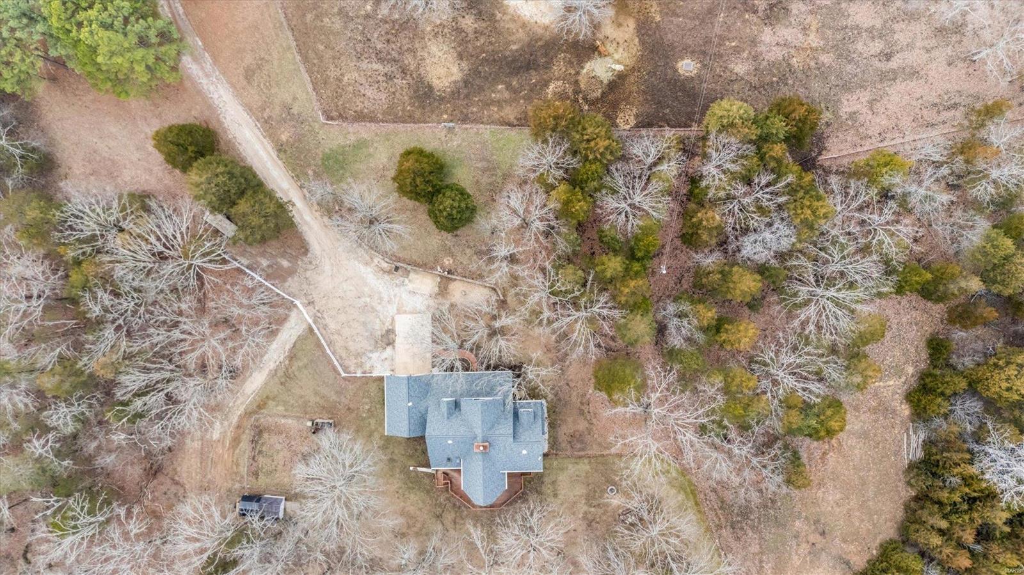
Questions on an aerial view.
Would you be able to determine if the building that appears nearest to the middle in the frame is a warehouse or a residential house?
residential house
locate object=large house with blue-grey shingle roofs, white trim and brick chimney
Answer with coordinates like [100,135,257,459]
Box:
[384,371,546,510]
